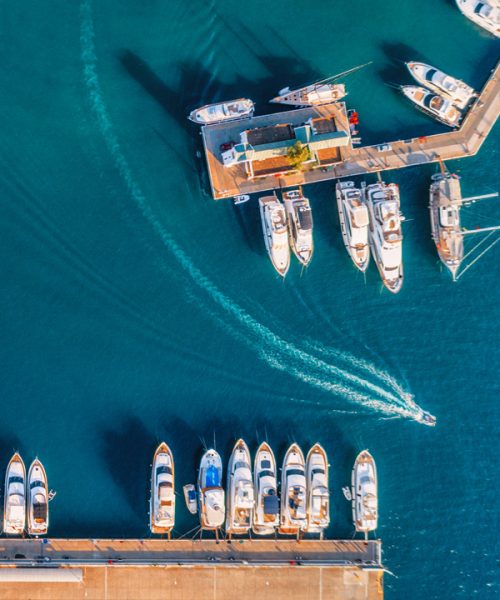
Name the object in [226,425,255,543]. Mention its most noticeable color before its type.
white boat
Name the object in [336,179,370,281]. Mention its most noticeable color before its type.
white boat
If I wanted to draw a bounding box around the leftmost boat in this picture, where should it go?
[2,439,27,541]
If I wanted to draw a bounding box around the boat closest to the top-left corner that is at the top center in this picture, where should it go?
[188,96,254,127]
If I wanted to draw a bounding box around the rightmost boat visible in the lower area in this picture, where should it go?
[420,411,436,423]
